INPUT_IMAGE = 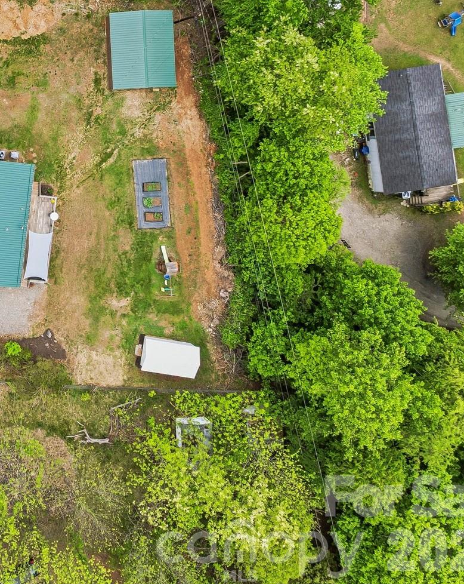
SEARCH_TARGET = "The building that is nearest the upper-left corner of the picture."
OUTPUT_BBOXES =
[104,10,177,90]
